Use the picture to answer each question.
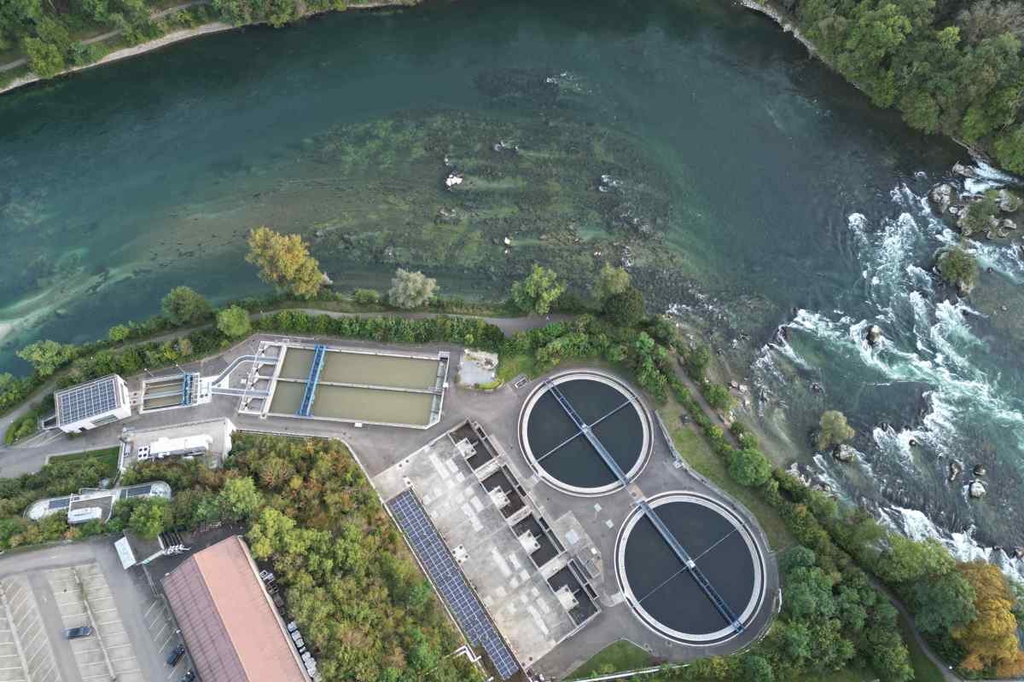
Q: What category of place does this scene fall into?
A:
industrial area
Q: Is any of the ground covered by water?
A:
Yes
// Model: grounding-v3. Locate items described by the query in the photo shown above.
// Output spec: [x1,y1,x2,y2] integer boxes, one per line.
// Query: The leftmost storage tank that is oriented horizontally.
[139,372,214,416]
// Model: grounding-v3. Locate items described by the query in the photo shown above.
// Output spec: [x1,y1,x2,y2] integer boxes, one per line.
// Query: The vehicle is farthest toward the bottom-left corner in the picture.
[66,626,92,640]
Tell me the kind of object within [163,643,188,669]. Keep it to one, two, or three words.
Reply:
car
